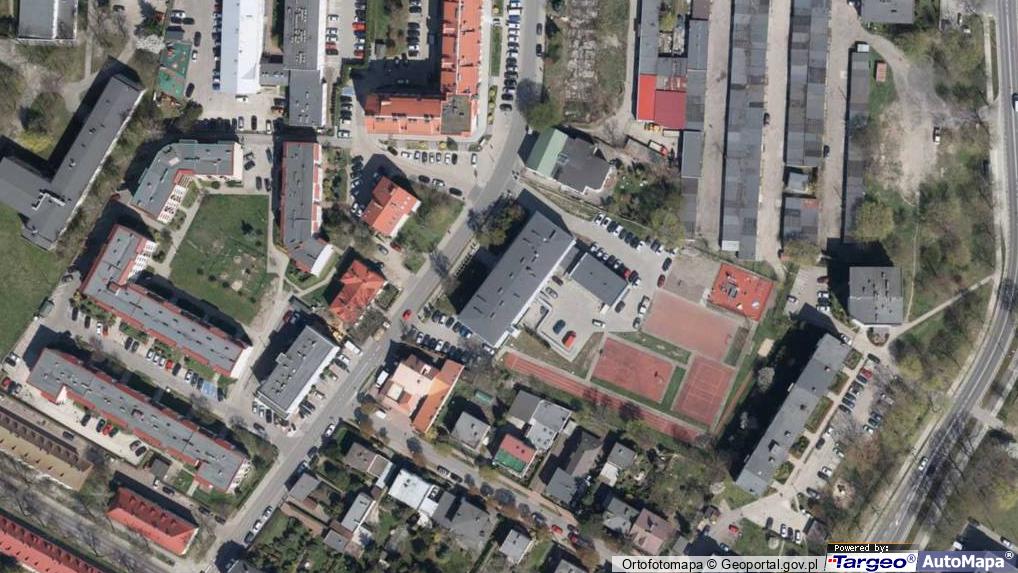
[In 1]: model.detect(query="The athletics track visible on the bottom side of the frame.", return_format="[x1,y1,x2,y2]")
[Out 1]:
[503,352,706,443]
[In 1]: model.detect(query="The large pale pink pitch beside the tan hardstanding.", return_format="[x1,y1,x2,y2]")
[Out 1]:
[641,289,741,363]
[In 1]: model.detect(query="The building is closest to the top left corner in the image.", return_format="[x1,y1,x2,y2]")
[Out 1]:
[18,0,79,40]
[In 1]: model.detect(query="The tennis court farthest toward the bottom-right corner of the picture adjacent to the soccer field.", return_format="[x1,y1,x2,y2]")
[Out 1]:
[673,354,738,429]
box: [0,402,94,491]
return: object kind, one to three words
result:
building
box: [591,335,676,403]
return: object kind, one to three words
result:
basketball court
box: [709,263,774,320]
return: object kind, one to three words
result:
playground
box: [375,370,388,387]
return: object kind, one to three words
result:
vehicle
